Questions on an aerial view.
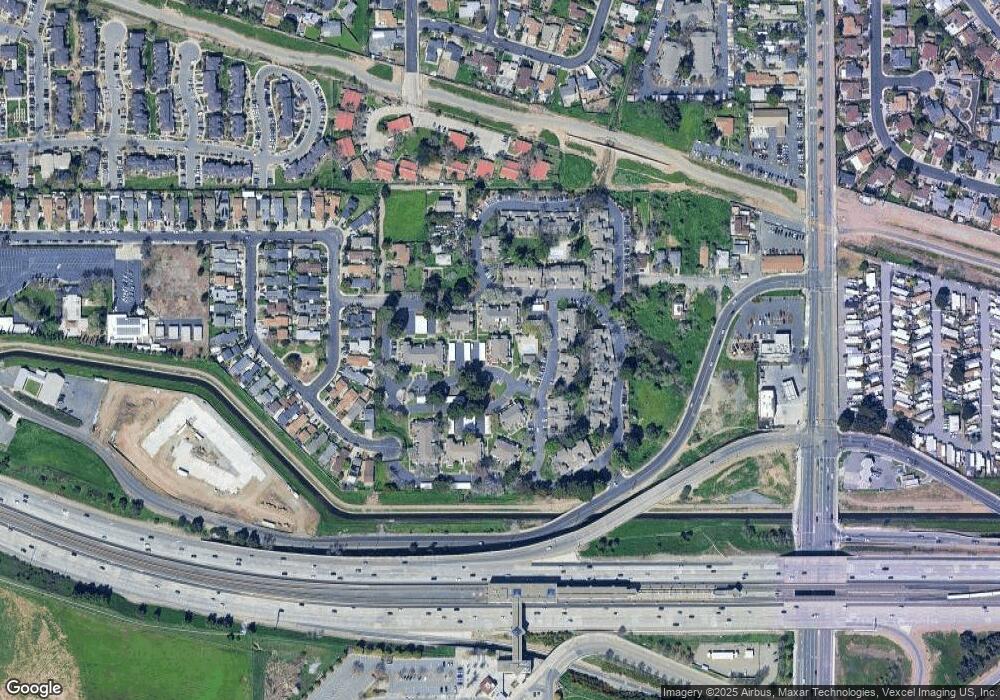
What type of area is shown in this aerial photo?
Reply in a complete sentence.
This image shows a residential area.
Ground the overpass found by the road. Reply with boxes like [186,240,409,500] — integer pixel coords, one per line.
[786,556,851,632]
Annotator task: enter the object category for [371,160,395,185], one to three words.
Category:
house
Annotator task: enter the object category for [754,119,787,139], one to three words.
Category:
building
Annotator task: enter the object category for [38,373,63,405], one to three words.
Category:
building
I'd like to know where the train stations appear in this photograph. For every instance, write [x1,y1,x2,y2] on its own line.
[486,585,741,674]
